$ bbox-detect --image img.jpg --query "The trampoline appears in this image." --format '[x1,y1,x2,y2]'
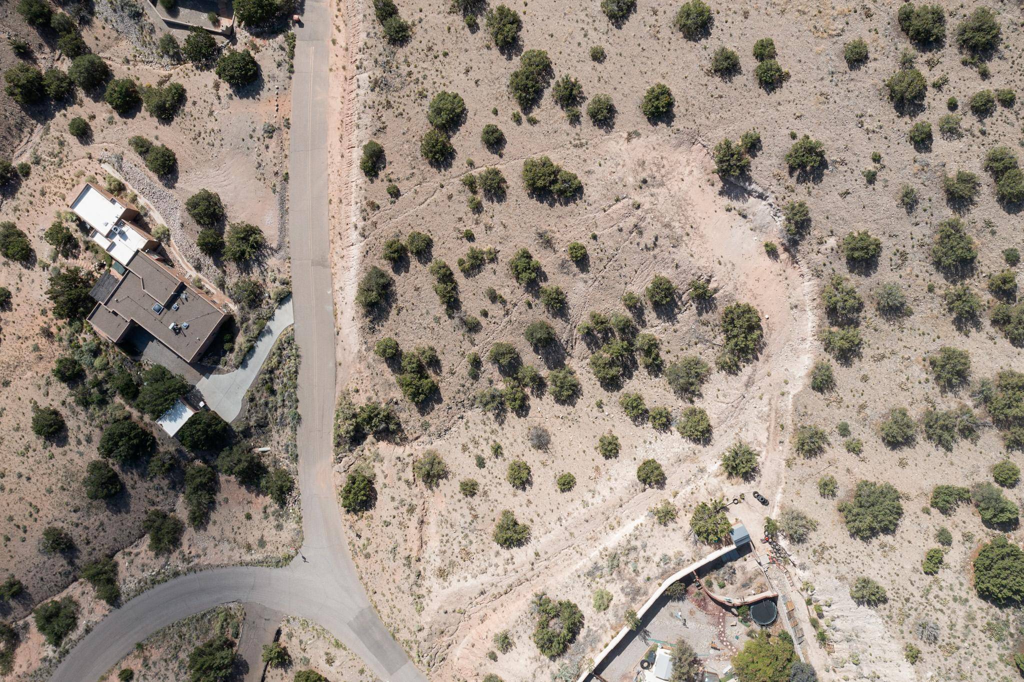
[750,599,777,626]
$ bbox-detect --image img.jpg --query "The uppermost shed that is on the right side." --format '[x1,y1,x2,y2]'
[727,522,750,547]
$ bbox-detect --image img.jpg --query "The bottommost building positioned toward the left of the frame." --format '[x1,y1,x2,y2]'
[156,396,202,437]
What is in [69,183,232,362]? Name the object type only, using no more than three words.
house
